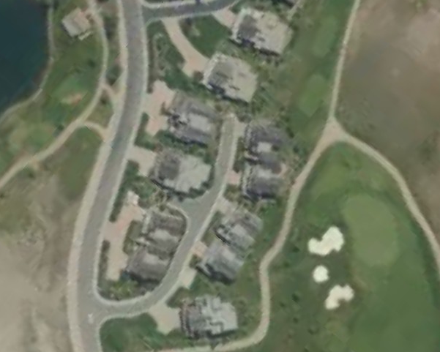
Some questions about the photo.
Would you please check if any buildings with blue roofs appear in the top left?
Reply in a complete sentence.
No, the scene shows no building with a blue roof in the top left.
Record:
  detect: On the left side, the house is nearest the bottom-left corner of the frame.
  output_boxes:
[126,235,173,278]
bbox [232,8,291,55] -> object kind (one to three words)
house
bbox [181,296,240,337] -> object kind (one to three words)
house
